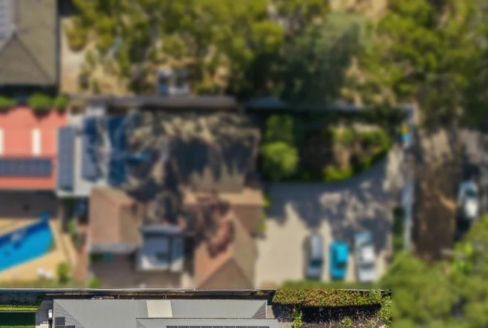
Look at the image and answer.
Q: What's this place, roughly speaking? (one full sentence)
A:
It's a residential area.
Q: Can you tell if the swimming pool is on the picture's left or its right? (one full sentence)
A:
It is on the left.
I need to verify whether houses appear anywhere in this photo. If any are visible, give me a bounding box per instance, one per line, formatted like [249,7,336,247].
[0,104,67,193]
[48,299,280,328]
[88,111,264,289]
[0,0,59,92]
